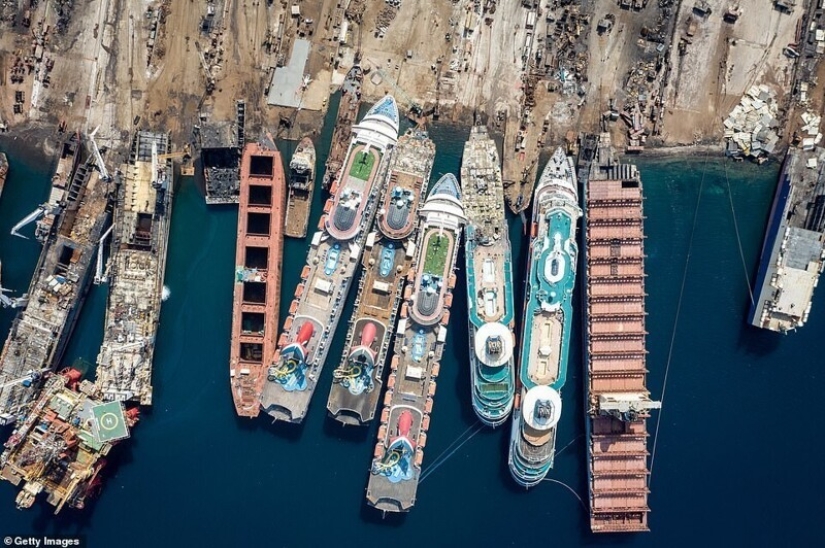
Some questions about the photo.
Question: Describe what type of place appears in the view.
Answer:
port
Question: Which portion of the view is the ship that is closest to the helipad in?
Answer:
left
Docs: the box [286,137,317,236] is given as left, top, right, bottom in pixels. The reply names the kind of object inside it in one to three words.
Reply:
vessel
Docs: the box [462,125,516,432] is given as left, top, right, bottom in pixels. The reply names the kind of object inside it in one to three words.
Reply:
ship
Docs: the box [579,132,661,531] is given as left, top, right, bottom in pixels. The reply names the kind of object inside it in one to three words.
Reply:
ship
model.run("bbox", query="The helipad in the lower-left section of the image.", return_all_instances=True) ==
[90,398,137,445]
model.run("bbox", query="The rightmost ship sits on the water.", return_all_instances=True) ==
[748,147,825,332]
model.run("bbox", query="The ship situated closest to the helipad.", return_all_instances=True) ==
[93,131,173,405]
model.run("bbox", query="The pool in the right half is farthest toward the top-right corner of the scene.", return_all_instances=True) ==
[545,249,567,283]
